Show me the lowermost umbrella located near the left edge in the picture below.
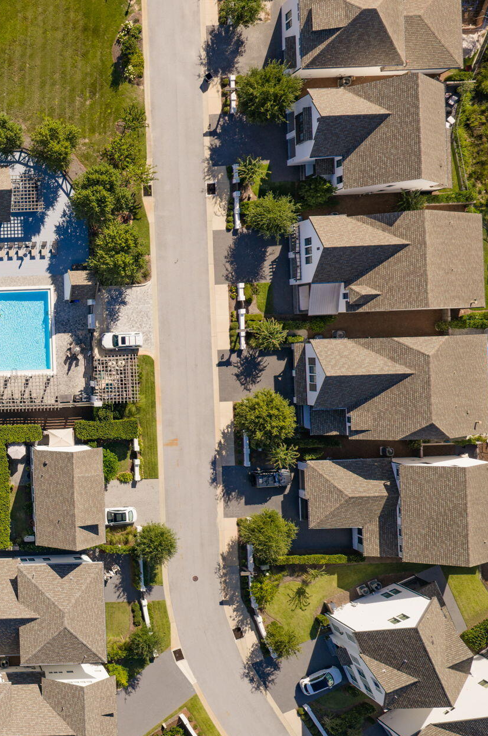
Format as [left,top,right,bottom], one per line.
[9,444,28,463]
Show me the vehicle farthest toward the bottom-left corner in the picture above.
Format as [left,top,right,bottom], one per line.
[105,507,135,527]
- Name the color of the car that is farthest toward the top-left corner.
white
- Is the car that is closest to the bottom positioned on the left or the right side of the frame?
right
